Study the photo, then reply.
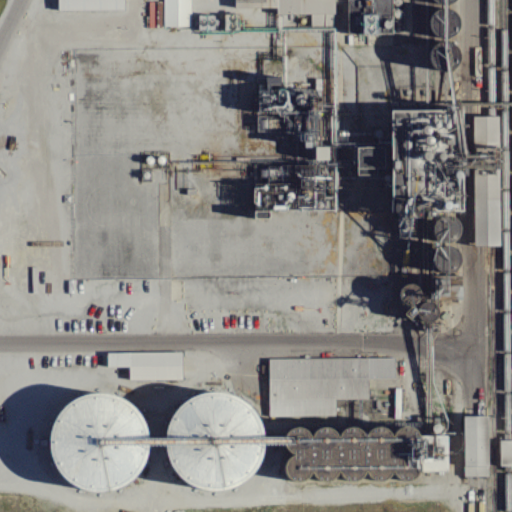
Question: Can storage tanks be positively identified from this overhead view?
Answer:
Yes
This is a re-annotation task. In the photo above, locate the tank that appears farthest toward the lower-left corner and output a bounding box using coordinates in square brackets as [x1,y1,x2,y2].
[50,389,150,496]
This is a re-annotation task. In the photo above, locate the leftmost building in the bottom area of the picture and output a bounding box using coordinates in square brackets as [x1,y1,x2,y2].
[108,352,182,381]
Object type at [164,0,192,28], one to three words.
shed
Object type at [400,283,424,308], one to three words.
silo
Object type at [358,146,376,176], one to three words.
building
